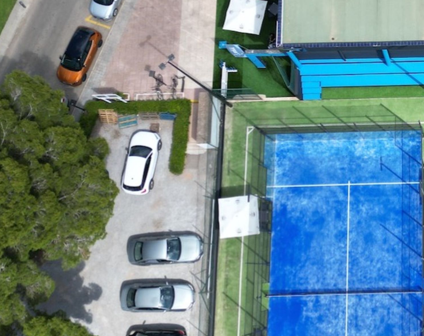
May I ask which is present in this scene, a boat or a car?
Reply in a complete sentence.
I can see a car in this picture.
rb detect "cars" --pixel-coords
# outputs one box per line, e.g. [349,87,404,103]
[119,279,198,316]
[119,130,161,196]
[129,328,187,336]
[54,26,102,88]
[127,233,205,268]
[86,0,118,21]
